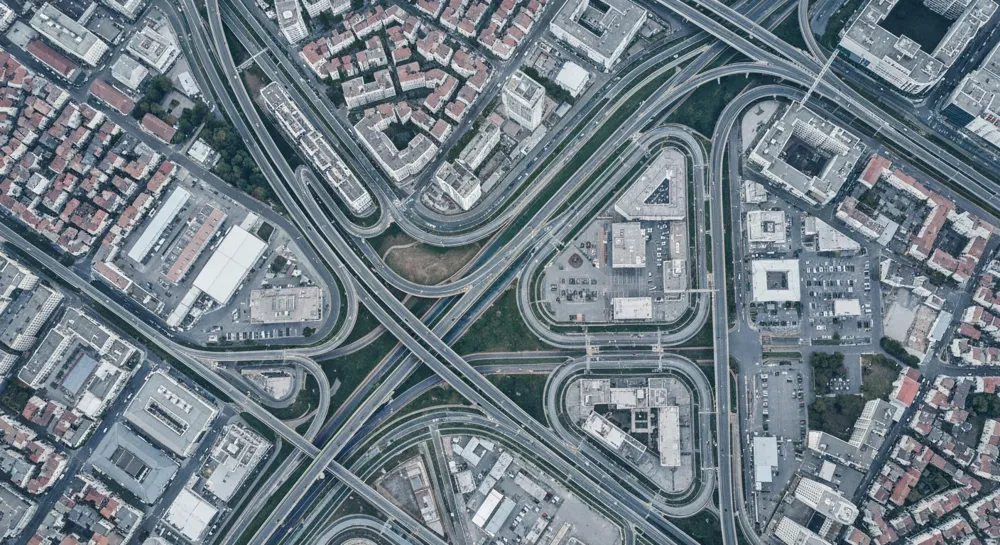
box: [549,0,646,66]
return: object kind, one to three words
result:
building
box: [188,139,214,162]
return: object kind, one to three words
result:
house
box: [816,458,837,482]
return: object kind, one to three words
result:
shed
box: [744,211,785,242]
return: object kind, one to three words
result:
building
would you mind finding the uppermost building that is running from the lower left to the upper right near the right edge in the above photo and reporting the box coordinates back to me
[942,34,1000,121]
